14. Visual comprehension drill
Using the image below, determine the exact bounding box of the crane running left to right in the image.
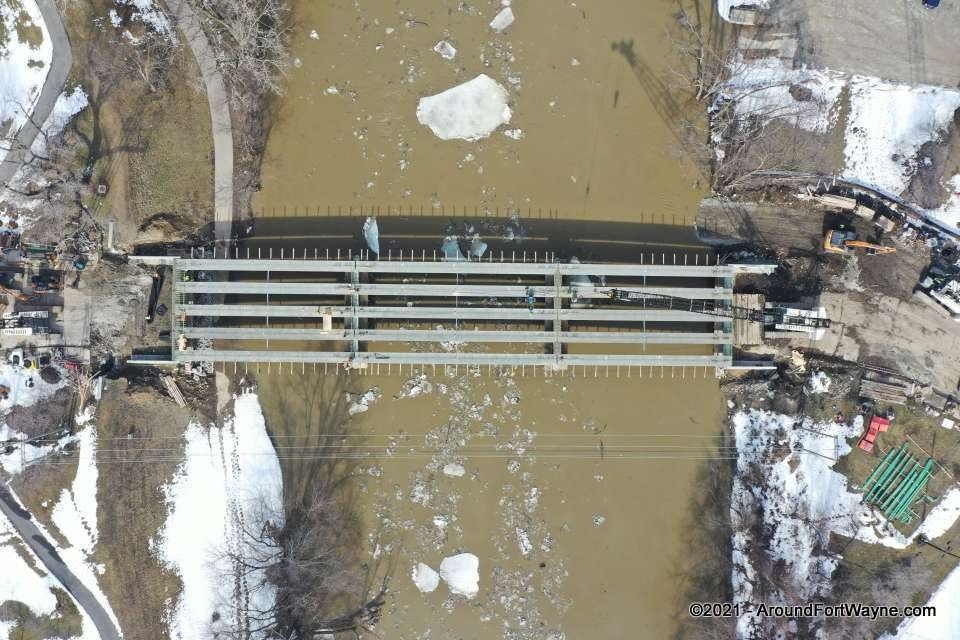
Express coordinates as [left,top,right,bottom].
[565,288,848,340]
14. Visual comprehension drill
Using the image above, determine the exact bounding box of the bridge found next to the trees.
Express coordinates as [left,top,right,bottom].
[129,248,775,377]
